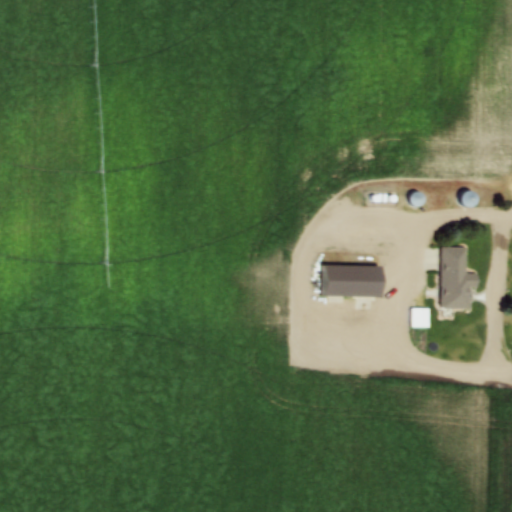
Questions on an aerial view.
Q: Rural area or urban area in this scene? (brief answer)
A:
rural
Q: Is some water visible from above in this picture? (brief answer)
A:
No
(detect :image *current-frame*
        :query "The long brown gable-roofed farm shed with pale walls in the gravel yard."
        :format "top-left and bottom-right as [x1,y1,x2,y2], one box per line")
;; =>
[320,266,385,298]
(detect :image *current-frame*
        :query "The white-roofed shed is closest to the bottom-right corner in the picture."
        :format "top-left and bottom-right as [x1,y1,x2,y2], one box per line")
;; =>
[410,308,430,328]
